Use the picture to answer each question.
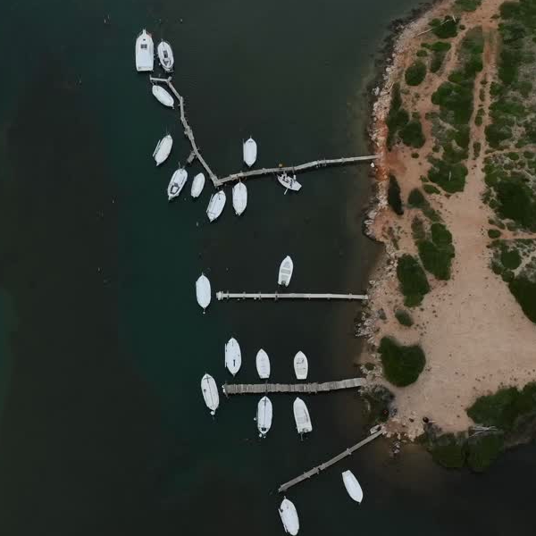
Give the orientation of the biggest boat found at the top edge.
from top to bottom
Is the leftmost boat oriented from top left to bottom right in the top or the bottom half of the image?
top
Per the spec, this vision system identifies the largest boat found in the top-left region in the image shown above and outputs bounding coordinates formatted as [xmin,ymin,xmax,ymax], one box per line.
[134,27,154,76]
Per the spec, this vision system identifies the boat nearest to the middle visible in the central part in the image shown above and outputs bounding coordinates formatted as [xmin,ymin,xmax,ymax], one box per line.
[277,256,293,289]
